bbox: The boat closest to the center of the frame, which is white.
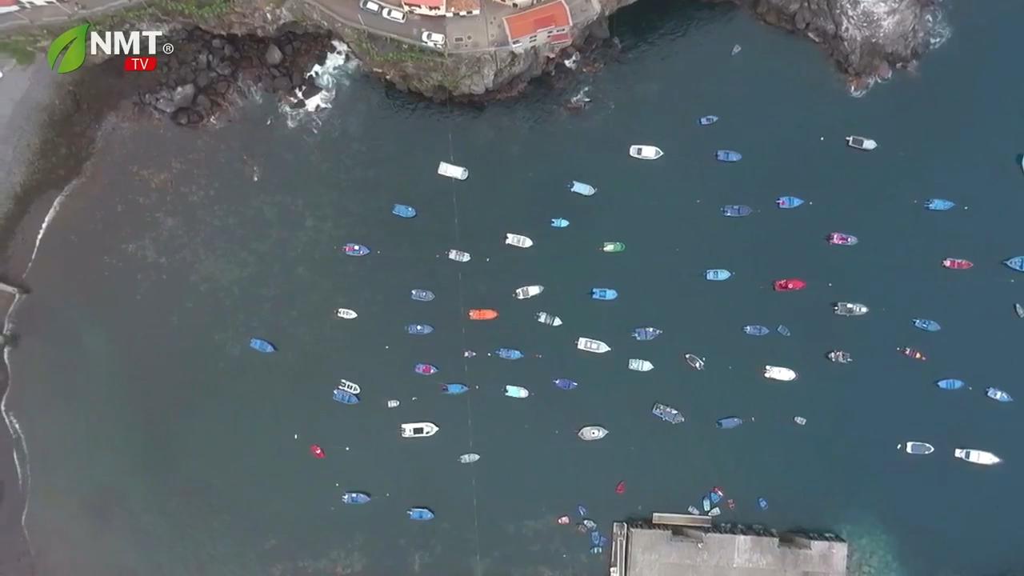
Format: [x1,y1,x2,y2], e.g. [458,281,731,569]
[510,287,543,300]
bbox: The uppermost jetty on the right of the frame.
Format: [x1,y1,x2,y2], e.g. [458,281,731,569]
[652,511,711,527]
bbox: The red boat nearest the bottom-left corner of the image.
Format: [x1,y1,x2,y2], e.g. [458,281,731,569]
[310,443,324,457]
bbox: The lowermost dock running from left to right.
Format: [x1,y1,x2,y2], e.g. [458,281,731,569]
[626,521,847,576]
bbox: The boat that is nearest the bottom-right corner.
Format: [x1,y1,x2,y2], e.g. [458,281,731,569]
[953,450,1006,466]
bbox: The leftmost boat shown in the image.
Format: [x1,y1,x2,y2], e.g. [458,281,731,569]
[247,337,274,351]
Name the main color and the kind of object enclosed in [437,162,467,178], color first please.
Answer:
white boat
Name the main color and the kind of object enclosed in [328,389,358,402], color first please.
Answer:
blue boat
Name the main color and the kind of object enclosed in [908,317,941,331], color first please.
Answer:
blue boat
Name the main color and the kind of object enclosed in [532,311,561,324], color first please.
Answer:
white boat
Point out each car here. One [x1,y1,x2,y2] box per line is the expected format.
[421,29,445,43]
[380,6,406,23]
[357,0,382,14]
